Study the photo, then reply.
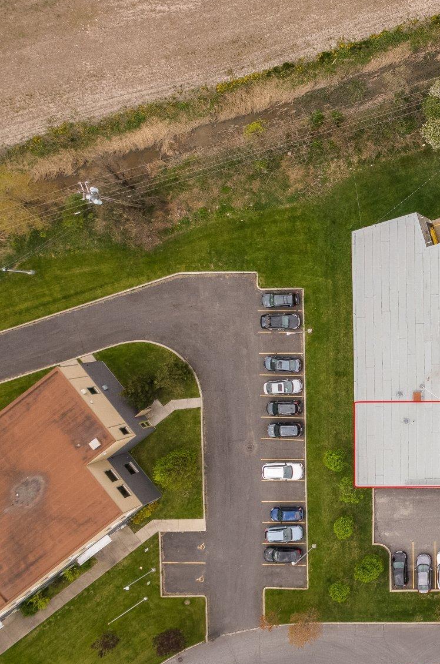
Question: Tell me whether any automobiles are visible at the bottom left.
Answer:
No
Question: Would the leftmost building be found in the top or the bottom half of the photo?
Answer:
bottom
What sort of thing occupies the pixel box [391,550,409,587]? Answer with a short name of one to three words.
car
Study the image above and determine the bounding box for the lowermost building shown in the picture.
[0,364,158,619]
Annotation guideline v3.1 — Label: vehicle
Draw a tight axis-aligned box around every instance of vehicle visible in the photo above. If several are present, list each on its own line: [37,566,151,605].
[271,505,304,523]
[265,526,304,543]
[415,554,432,593]
[268,422,303,439]
[265,546,302,564]
[391,550,409,587]
[264,378,303,396]
[434,549,440,591]
[267,399,302,417]
[261,291,300,309]
[264,356,302,373]
[260,312,301,331]
[260,462,304,482]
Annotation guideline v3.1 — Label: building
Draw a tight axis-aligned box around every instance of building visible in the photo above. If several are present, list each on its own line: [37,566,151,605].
[0,364,158,619]
[352,213,440,488]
